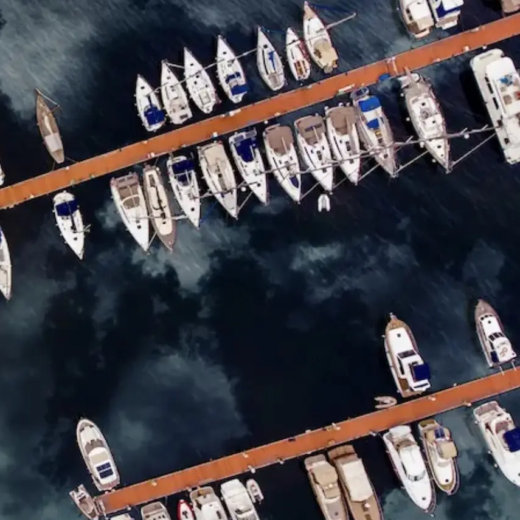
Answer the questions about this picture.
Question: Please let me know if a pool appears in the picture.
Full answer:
No, there's no pool here.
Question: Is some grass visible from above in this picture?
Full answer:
No, the scene doesn't show any grass.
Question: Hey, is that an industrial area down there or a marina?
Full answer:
This looks like a marina.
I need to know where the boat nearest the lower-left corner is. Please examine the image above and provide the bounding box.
[70,485,100,520]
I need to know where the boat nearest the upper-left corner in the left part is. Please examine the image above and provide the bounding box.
[32,81,65,165]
